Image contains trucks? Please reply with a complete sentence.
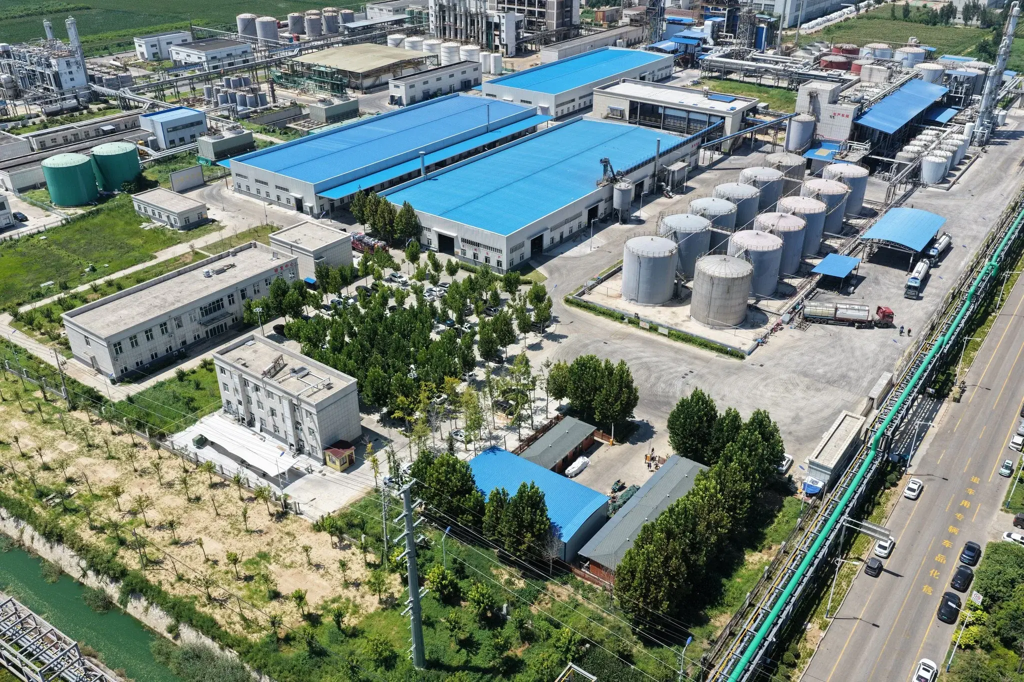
Yes, the image includes a truck.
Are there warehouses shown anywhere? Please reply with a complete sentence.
Yes, the frame does contain a warehouse.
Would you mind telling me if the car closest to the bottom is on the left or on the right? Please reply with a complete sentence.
The car closest to the bottom sits on the right side.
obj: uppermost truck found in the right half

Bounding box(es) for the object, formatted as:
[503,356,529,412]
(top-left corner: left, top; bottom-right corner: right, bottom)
[923,227,952,271]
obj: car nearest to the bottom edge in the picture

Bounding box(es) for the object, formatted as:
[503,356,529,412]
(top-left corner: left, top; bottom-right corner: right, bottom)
[913,661,937,682]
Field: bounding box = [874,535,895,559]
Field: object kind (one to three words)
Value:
car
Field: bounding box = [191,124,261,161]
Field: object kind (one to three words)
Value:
cooling tower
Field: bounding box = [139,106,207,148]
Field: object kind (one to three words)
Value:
building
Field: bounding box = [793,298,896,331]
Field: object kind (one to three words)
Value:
truck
